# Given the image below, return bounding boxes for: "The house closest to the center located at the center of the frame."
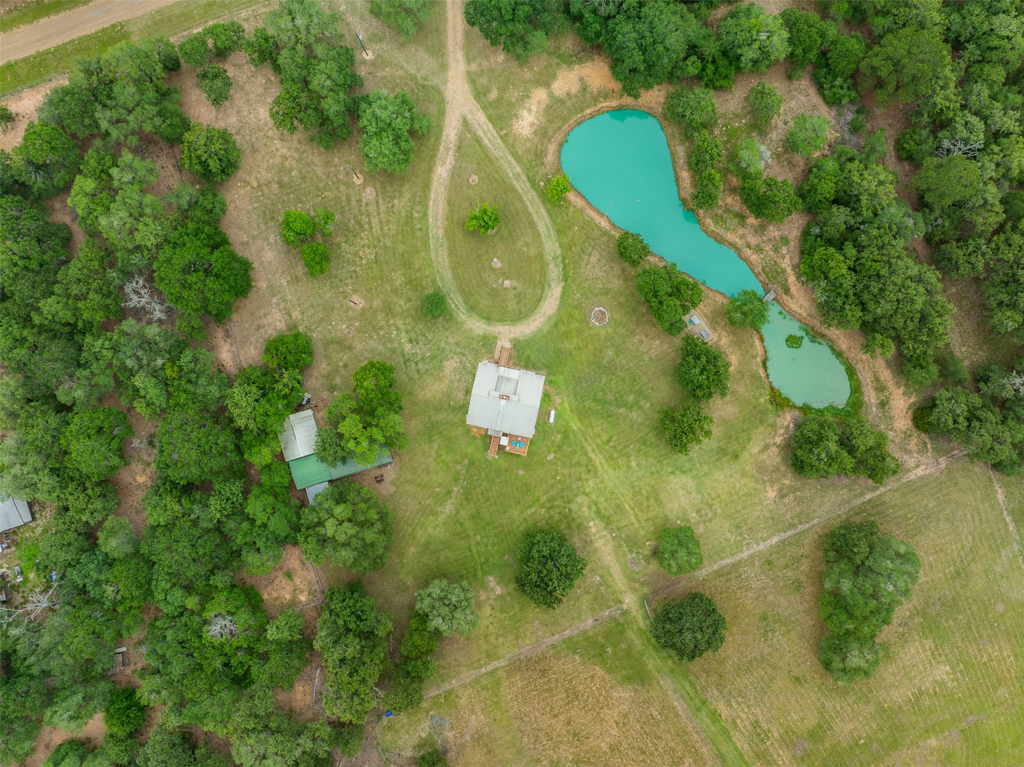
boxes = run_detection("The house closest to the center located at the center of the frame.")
[467,345,545,456]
